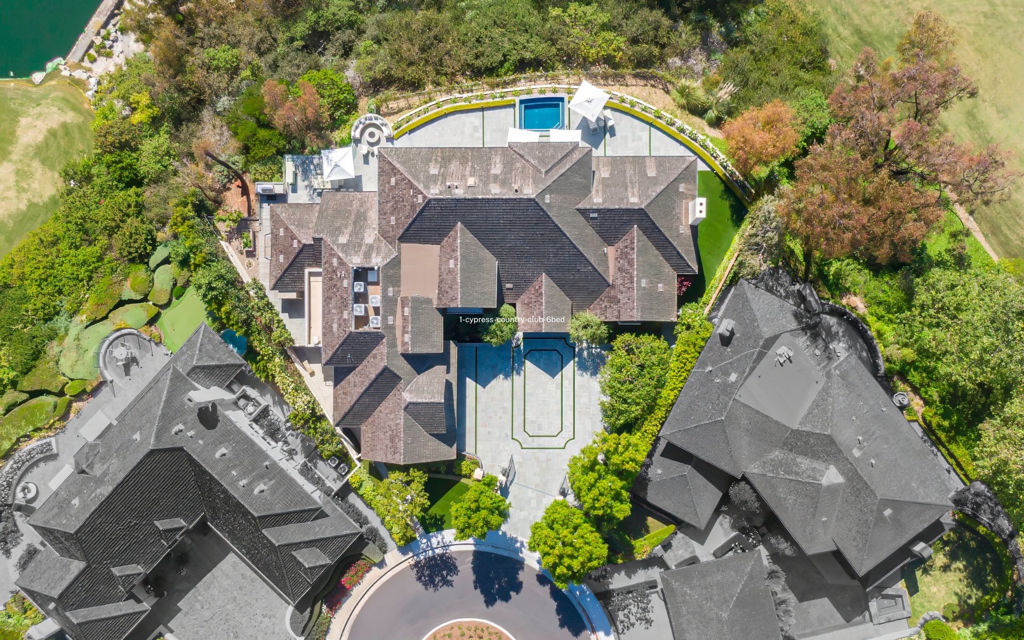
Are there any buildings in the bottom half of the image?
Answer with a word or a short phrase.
Yes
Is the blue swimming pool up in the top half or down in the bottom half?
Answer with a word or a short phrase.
top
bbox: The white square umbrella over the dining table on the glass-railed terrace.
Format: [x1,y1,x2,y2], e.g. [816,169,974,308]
[322,147,355,181]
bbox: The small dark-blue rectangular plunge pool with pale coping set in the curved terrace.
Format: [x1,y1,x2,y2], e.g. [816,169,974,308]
[515,92,573,135]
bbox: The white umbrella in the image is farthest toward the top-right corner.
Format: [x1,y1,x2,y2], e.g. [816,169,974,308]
[568,80,610,122]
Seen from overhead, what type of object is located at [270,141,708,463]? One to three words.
house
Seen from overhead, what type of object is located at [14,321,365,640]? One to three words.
house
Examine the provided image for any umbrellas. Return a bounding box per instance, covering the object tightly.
[322,147,355,181]
[568,80,610,122]
[550,129,581,142]
[508,128,540,142]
